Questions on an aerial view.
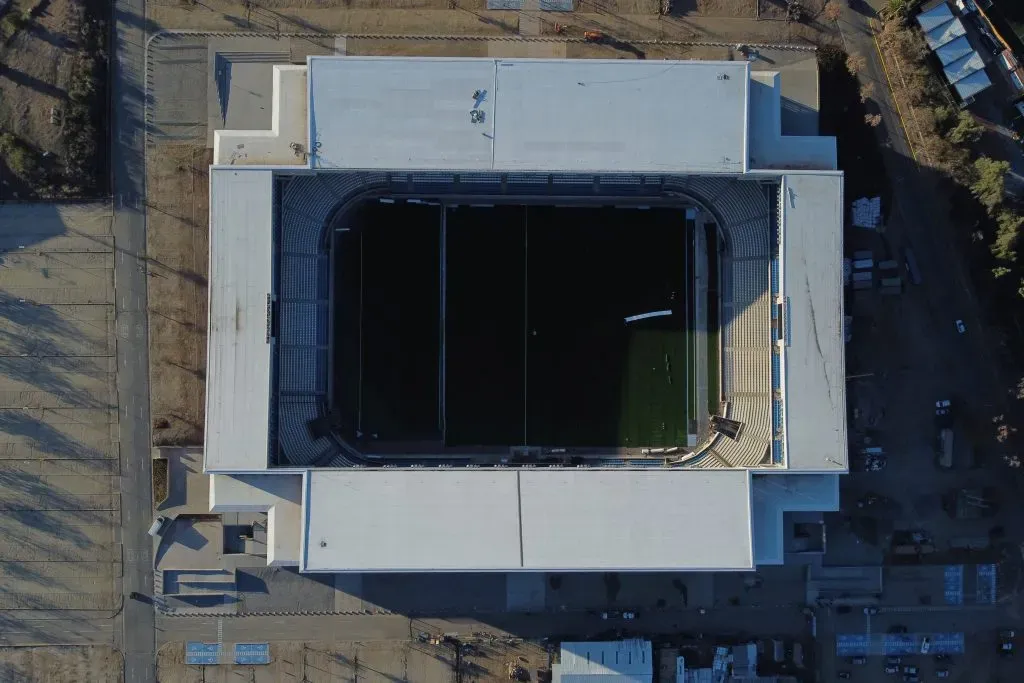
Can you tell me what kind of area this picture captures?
sports ground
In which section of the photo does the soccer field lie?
center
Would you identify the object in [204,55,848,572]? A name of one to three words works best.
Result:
stadium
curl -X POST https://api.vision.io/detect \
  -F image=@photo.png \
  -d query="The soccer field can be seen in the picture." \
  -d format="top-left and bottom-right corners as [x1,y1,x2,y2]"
[330,196,720,455]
